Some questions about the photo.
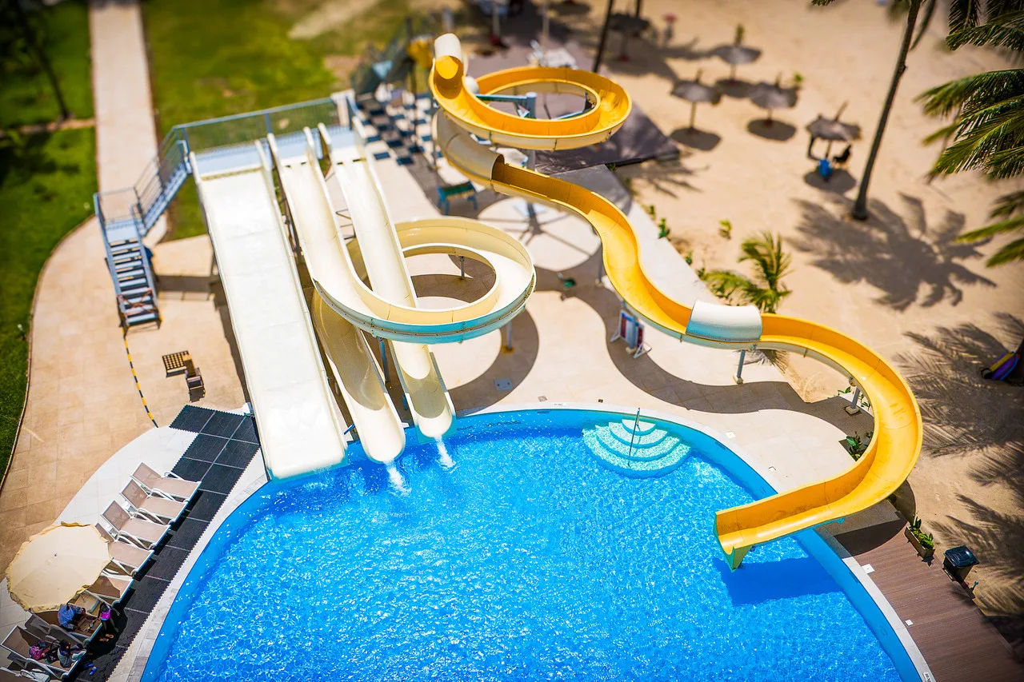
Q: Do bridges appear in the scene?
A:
No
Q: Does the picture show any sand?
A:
Yes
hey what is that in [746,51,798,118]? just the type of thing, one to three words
umbrella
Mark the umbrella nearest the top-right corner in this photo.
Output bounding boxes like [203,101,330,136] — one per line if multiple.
[807,94,867,157]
